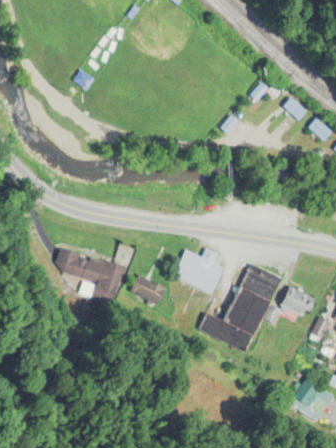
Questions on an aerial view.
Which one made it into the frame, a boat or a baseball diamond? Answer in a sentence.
Visible in the photo is a baseball diamond.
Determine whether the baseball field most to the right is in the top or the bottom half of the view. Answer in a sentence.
The baseball field most to the right is in the top half of the image.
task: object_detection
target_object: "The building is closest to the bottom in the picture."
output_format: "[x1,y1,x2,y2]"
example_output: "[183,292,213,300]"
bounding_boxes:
[294,382,334,419]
